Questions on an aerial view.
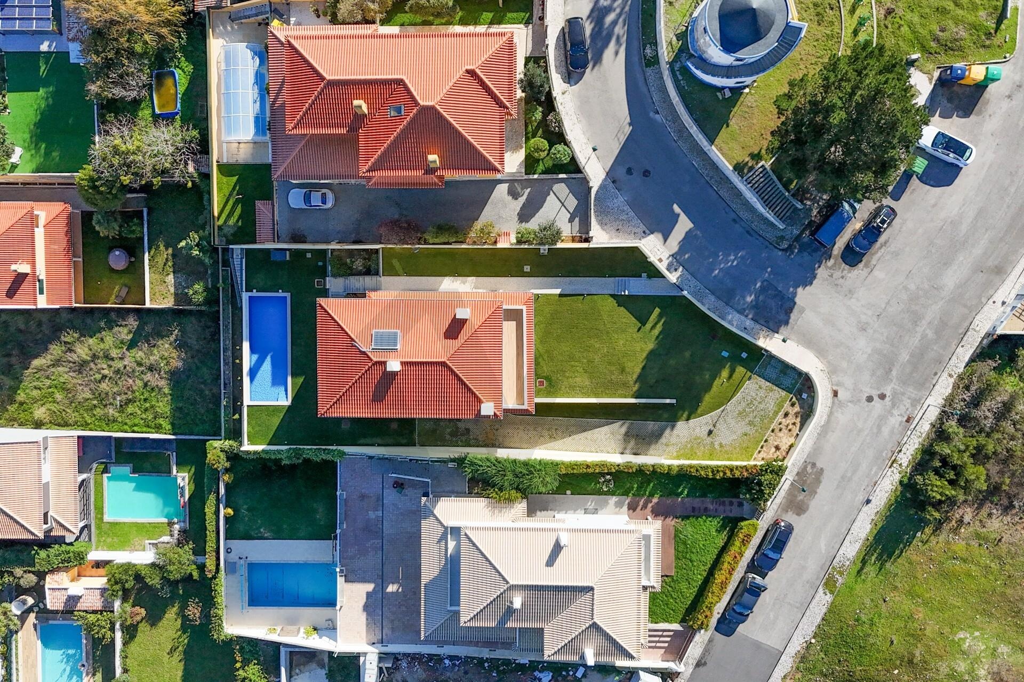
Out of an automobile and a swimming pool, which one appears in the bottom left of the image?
swimming pool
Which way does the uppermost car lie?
vertically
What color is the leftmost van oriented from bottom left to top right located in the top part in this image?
blue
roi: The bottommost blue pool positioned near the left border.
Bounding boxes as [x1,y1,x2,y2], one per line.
[36,619,87,682]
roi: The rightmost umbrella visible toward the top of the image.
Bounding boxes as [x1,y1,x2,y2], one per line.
[109,249,135,270]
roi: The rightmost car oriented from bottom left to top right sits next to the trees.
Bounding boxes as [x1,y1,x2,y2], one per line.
[850,203,895,255]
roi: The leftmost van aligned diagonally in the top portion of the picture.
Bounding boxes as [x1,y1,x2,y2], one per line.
[808,204,855,252]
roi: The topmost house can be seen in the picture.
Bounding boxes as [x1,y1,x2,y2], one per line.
[267,23,518,193]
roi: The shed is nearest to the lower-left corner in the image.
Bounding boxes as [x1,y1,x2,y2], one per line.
[45,558,128,612]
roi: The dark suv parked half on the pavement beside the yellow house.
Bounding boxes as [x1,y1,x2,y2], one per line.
[566,19,590,73]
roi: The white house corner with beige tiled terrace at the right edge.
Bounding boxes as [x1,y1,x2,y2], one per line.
[980,278,1024,335]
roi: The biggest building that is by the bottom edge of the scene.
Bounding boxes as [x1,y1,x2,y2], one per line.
[420,495,663,666]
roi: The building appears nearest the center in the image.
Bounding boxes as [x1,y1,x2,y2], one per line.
[315,290,536,419]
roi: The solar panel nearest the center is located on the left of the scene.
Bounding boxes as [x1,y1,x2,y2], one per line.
[352,330,401,352]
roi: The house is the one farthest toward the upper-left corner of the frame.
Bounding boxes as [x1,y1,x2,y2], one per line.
[0,201,86,307]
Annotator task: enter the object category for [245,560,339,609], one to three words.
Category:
swimming pool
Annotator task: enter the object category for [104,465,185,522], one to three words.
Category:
swimming pool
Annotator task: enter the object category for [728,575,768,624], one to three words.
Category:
car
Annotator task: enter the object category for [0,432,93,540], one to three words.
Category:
house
